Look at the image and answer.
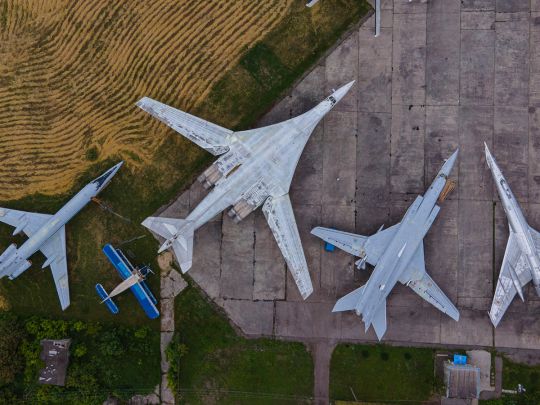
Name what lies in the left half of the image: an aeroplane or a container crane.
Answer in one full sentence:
The feature located in the left half of the image is an aeroplane.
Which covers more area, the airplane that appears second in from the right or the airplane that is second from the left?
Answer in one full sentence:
The airplane that appears second in from the right takes up more space than the airplane that is second from the left does.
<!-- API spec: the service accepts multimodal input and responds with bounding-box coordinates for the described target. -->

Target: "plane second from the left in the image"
[96,245,158,319]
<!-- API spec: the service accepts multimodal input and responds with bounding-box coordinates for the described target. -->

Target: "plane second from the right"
[309,149,460,340]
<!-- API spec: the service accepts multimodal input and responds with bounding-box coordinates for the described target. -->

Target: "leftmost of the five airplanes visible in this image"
[0,160,123,311]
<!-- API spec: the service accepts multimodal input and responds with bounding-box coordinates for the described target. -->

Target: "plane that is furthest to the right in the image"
[485,142,540,327]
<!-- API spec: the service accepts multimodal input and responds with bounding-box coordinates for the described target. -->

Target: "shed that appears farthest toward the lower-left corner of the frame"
[40,339,73,385]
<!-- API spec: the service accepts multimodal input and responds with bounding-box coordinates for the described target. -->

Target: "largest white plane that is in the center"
[133,81,354,297]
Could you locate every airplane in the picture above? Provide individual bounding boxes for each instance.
[0,160,123,311]
[309,149,460,340]
[485,142,540,327]
[96,245,158,319]
[133,81,354,297]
